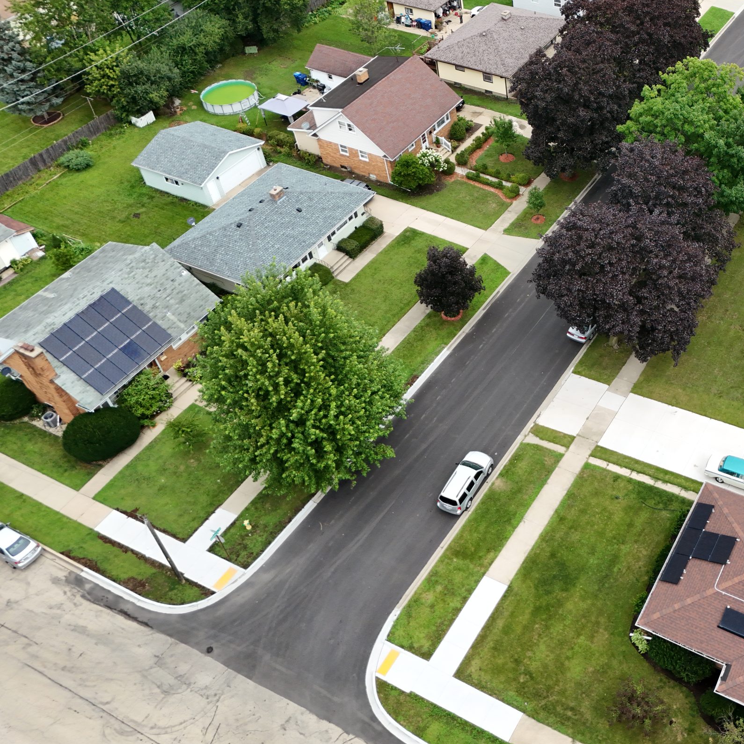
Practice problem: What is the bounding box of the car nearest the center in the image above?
[433,450,494,516]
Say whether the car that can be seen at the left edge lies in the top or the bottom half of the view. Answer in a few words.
bottom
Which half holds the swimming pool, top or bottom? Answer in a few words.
top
